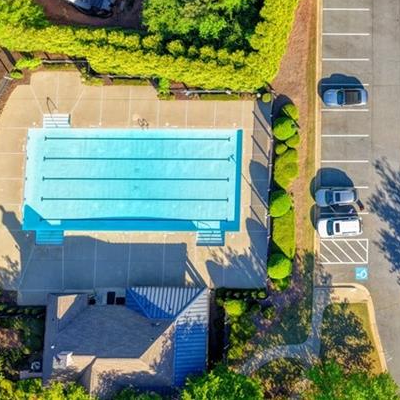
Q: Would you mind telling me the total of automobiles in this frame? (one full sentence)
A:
The photo contains 3 automobiles.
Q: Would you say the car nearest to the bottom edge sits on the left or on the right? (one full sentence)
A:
You can find the car nearest to the bottom edge on the right side of the picture.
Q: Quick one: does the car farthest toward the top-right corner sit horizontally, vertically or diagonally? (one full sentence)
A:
The car farthest toward the top-right corner has been laid out horizontally relative to the frame.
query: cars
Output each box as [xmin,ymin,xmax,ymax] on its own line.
[318,218,362,241]
[323,87,367,107]
[315,188,357,214]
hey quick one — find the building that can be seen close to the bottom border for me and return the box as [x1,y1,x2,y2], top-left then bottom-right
[42,285,212,400]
